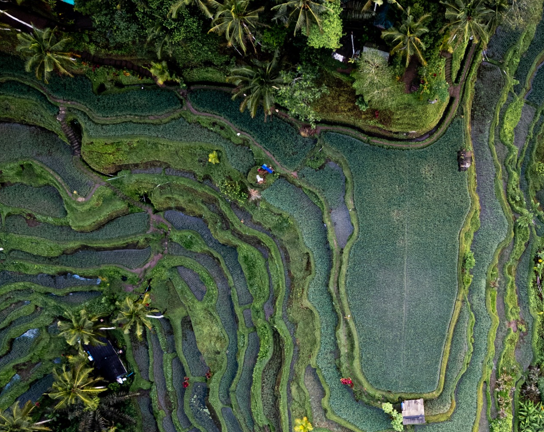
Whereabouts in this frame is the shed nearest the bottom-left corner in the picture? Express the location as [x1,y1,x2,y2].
[84,340,129,377]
